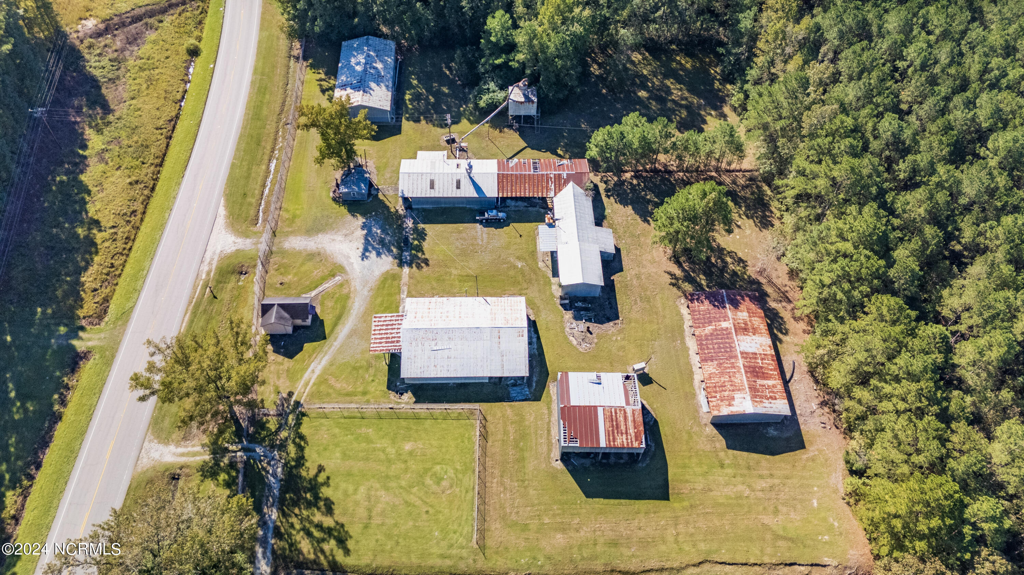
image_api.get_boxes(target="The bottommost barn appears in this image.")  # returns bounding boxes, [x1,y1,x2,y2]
[557,373,645,460]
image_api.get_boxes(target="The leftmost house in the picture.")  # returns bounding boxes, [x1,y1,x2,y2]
[260,297,319,334]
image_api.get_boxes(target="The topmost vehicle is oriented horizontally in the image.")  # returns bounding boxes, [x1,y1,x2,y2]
[475,209,507,222]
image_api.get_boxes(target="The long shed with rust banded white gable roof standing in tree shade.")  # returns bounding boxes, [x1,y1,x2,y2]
[332,35,401,121]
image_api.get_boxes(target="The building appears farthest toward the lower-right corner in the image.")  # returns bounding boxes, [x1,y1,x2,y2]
[685,290,791,422]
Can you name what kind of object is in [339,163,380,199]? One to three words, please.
house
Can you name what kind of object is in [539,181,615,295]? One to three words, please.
building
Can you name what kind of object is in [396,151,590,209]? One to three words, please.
building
